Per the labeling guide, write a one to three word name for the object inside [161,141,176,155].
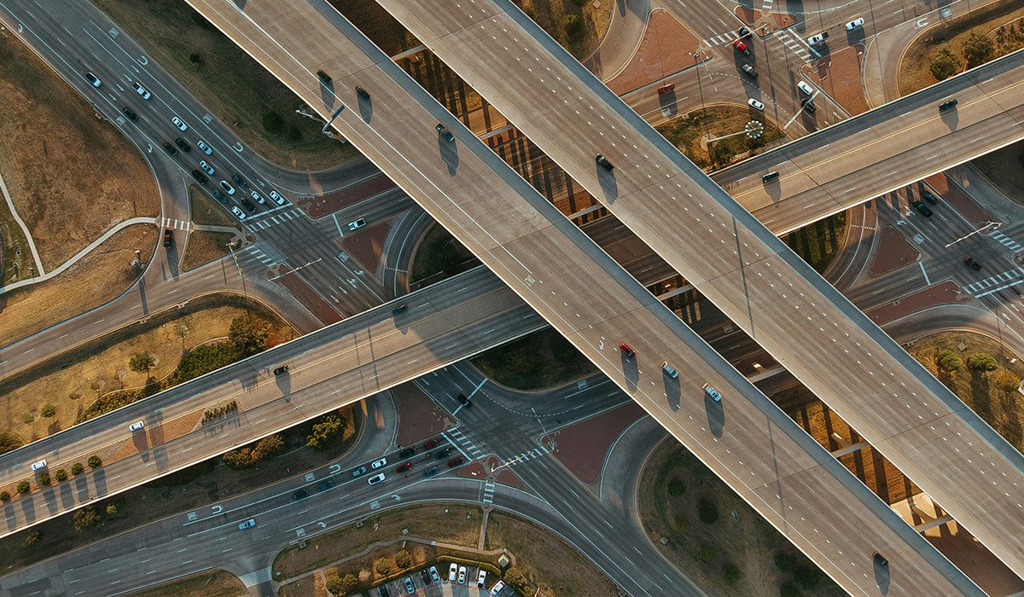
car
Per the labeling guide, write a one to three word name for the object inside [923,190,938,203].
vehicle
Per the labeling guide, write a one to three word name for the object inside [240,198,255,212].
car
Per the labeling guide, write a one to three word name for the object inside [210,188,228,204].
vehicle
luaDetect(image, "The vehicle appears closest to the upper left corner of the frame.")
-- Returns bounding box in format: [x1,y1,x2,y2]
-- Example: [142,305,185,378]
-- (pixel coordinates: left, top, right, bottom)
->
[85,72,100,85]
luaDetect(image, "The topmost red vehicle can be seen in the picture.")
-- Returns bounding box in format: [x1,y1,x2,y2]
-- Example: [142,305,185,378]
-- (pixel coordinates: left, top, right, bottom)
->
[734,39,752,55]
